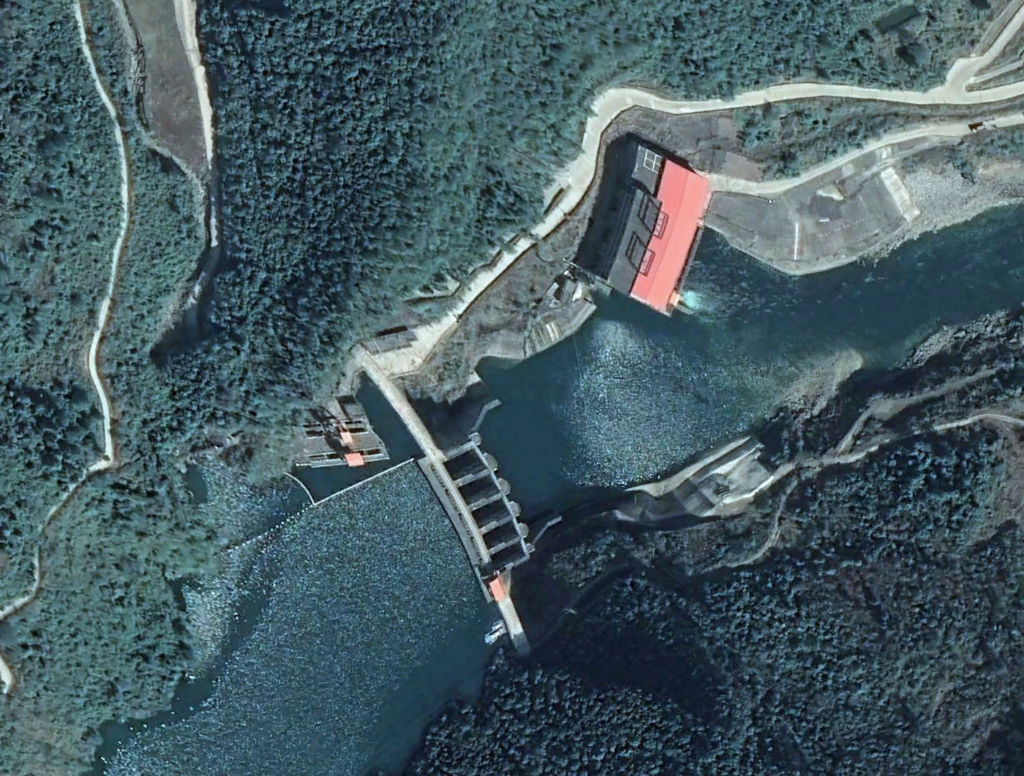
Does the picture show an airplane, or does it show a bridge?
bridge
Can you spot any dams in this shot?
Yes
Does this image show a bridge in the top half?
No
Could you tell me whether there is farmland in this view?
No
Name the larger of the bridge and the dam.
the dam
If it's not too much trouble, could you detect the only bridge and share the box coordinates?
[428,457,490,562]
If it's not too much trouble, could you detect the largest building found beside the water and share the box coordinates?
[594,145,710,317]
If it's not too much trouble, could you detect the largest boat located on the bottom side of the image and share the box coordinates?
[484,627,504,641]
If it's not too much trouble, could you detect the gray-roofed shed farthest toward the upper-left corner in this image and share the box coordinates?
[362,331,418,355]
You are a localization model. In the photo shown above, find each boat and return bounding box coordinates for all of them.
[491,618,504,628]
[484,627,504,641]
